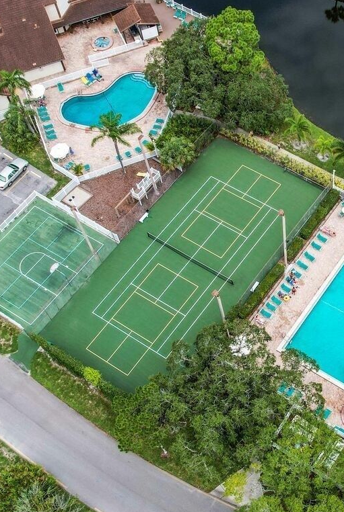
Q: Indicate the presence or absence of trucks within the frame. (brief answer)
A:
No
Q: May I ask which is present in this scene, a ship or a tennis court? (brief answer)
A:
tennis court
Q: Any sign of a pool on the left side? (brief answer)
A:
Yes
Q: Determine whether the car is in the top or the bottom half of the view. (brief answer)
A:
top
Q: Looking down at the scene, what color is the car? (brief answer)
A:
white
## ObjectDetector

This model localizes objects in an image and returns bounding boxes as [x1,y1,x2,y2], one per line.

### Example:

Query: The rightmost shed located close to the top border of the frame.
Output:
[112,3,162,45]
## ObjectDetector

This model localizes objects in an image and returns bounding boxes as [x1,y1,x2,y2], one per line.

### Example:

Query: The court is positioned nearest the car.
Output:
[0,195,118,334]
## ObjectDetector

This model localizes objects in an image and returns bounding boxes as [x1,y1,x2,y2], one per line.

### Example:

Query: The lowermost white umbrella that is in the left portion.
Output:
[49,143,71,164]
